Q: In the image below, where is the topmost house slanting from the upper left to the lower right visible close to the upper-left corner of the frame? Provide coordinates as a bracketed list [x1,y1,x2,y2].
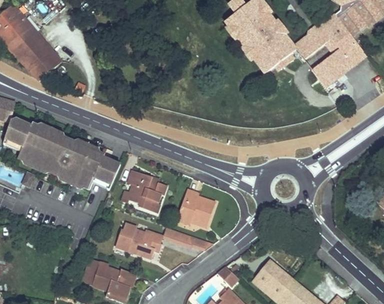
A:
[0,6,62,77]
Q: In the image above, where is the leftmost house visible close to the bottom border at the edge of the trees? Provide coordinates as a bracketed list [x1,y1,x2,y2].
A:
[84,259,137,304]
